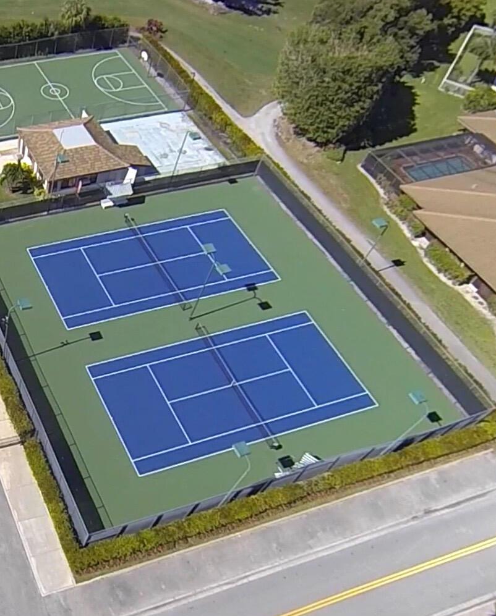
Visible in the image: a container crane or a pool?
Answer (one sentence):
I can see a pool in this picture.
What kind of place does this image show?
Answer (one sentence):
This image shows a sports ground.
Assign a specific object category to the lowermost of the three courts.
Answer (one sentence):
From above, the lowermost of the three courts can be identified as a tennis court.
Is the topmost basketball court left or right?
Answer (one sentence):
You can find the topmost basketball court on the left side of the picture.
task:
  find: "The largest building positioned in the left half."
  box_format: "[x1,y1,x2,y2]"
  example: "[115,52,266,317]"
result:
[17,116,152,195]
